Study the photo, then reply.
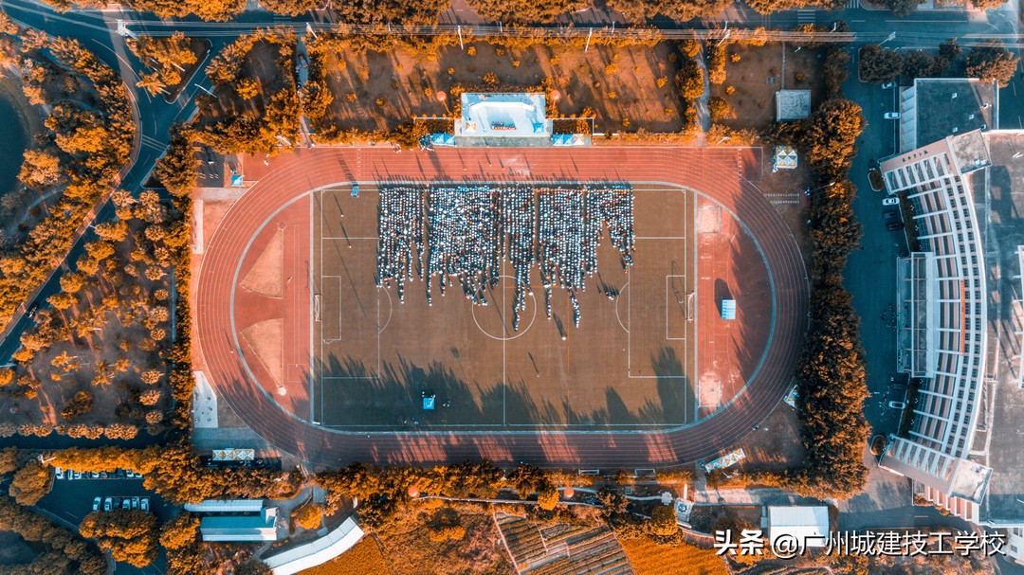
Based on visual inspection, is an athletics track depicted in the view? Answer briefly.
Yes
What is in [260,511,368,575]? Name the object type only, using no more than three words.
shed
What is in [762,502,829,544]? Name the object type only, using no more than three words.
shed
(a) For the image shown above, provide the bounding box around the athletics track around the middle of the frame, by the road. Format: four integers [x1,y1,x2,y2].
[196,147,811,466]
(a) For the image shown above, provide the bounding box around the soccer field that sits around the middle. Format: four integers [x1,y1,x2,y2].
[310,185,698,430]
